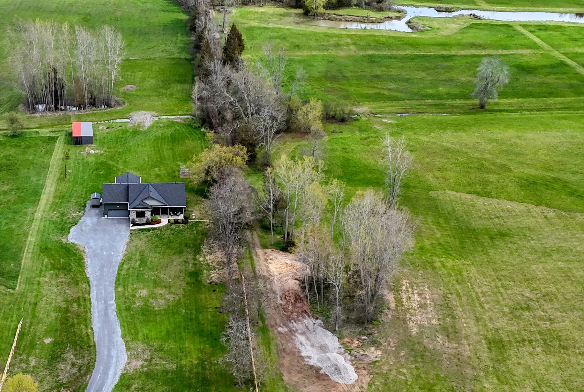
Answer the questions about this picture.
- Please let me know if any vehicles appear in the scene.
No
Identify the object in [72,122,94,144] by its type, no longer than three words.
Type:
shed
